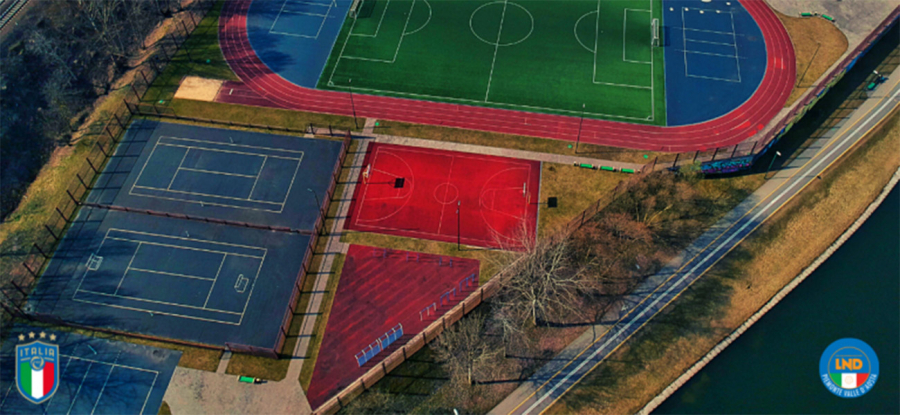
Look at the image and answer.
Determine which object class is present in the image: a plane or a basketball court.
basketball court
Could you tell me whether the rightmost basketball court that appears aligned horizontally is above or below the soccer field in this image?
below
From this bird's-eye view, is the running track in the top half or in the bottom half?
top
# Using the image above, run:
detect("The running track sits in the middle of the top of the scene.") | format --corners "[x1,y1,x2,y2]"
[219,0,799,153]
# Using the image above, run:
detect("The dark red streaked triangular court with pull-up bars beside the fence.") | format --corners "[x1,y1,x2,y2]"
[308,244,483,414]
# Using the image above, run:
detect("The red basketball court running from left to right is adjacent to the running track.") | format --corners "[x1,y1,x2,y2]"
[344,142,543,249]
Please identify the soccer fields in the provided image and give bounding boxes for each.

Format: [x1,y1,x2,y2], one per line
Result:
[315,0,666,126]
